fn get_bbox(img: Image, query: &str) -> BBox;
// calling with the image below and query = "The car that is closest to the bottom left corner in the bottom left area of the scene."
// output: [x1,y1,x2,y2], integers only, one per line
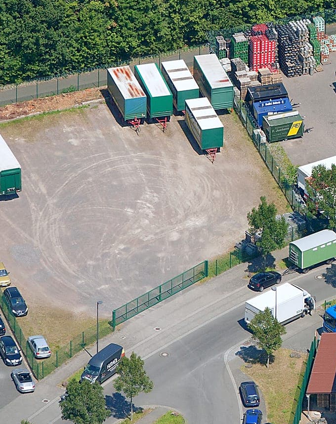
[10,365,36,392]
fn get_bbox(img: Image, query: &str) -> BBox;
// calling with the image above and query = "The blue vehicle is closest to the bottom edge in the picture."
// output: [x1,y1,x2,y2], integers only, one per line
[244,410,263,424]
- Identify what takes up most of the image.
paved ground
